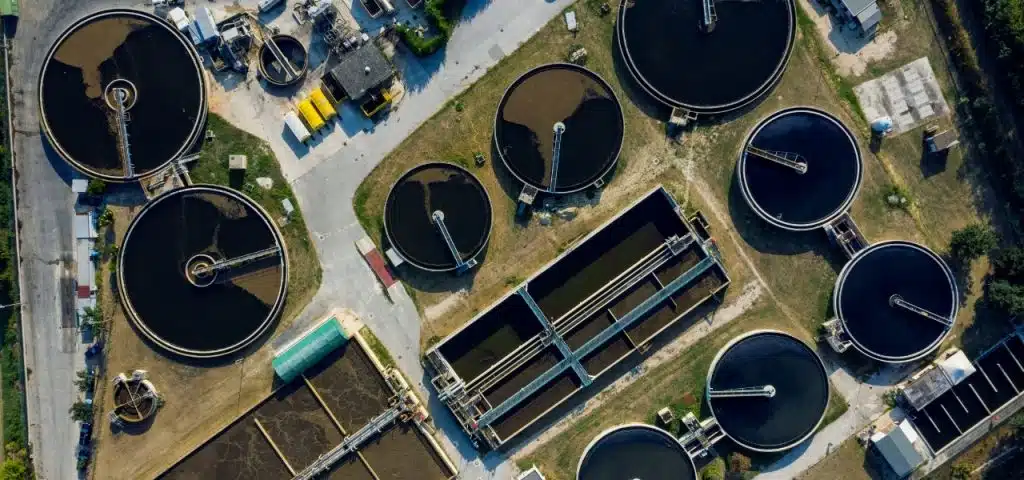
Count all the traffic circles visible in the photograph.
0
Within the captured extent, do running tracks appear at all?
No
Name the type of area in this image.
industrial area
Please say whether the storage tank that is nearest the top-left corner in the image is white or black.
black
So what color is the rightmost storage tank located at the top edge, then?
black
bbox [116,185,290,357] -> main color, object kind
black storage tank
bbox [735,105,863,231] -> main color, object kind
black storage tank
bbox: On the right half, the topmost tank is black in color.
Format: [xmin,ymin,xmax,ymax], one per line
[616,0,797,114]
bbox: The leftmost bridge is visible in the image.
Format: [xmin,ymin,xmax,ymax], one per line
[115,87,131,177]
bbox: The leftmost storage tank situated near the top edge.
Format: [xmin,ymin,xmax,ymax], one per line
[39,11,211,180]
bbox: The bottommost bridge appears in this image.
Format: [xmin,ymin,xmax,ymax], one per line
[288,395,409,480]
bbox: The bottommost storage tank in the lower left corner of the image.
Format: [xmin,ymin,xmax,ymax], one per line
[111,373,163,423]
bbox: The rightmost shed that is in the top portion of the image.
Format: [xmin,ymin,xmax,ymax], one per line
[926,129,960,153]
